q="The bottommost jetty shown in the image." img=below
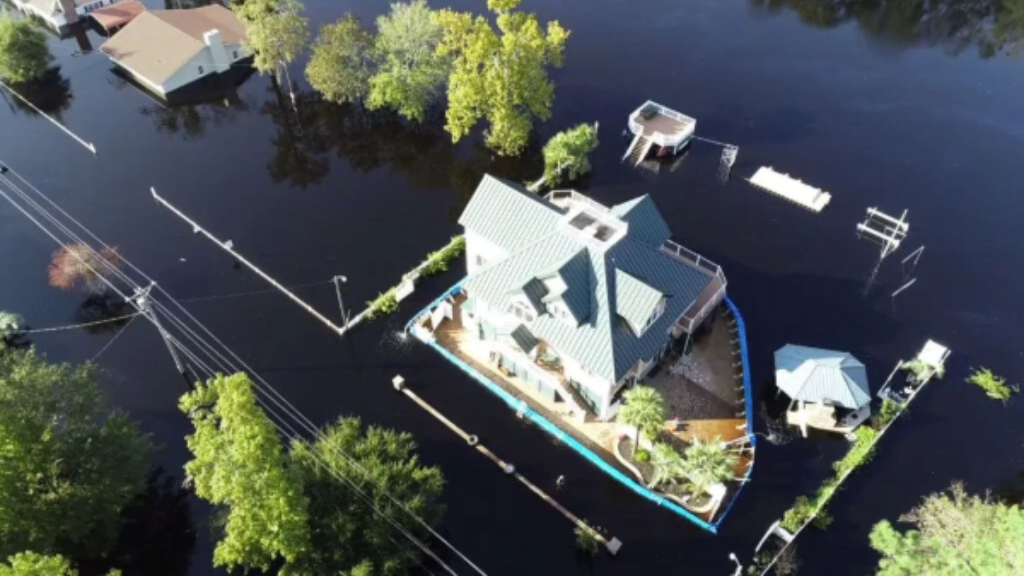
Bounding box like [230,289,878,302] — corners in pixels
[602,534,625,559]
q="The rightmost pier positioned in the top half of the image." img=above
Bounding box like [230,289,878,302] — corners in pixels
[742,167,831,215]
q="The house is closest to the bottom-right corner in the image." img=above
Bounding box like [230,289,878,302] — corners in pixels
[457,171,726,425]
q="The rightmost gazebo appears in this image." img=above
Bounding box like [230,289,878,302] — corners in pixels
[770,344,871,435]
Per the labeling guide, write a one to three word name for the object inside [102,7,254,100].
house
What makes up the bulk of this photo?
water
